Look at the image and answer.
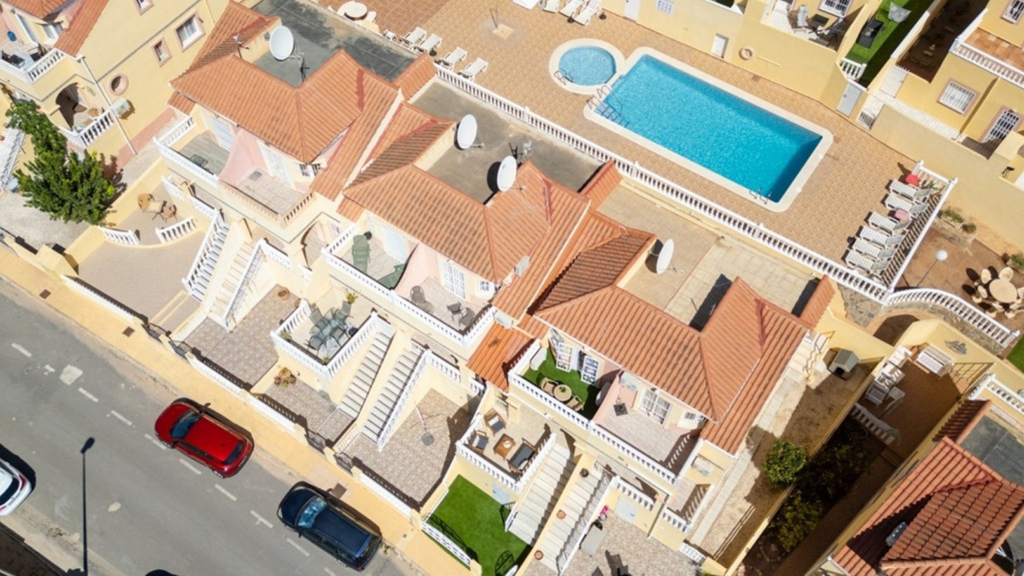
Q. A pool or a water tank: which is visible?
pool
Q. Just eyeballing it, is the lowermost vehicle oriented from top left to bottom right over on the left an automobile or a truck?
automobile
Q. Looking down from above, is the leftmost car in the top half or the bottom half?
bottom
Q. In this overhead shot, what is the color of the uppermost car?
red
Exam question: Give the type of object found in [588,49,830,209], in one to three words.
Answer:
swimming pool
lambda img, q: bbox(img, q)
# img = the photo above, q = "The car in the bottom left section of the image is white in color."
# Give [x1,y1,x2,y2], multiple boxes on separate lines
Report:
[0,462,31,518]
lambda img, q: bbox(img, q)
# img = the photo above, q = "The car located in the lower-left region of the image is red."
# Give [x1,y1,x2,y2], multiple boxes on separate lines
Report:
[160,406,254,479]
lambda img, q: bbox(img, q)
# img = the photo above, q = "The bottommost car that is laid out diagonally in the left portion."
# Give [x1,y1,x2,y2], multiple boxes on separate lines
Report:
[281,485,384,573]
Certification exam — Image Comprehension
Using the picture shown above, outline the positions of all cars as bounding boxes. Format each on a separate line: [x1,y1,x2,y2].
[0,462,31,518]
[281,485,384,573]
[160,406,254,479]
